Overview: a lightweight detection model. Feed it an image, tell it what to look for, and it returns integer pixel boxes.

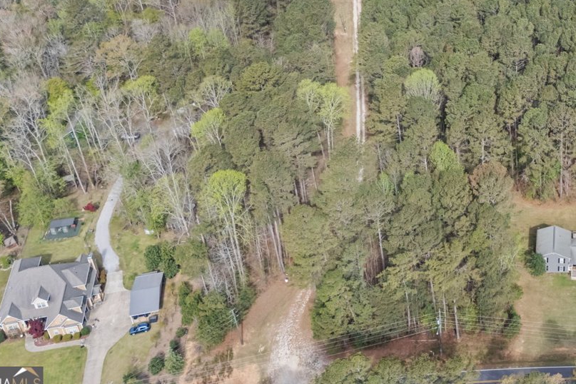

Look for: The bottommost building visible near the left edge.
[0,250,113,339]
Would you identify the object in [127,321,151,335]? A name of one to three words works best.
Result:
vehicle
